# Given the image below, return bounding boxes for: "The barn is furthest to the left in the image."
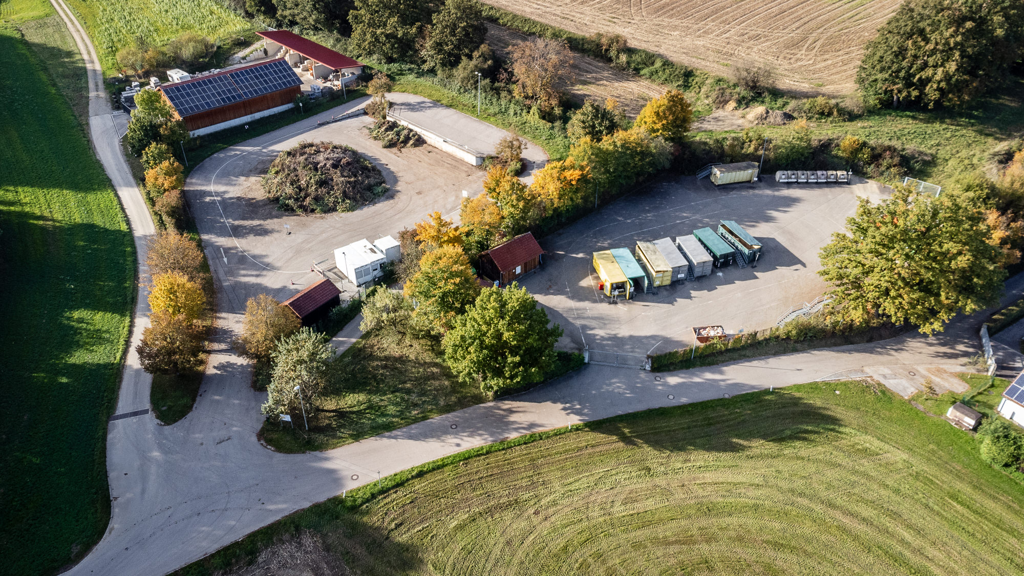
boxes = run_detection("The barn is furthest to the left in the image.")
[152,57,303,135]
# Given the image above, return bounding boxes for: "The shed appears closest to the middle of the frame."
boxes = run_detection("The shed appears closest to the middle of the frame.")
[480,232,544,285]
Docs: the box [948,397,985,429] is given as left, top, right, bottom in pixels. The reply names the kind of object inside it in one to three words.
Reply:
shed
